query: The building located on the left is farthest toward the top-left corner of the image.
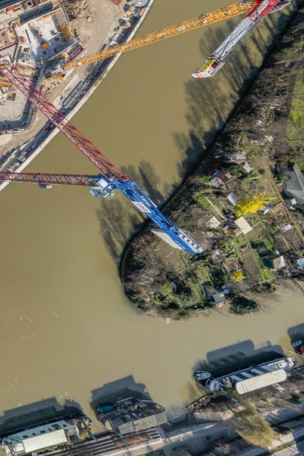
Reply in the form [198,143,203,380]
[10,8,77,70]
